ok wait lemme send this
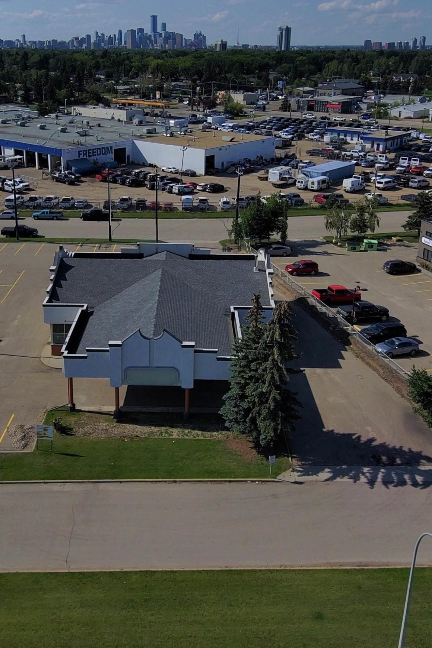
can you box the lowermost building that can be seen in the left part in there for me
[41,240,275,415]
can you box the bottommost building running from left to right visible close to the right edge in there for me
[326,126,415,150]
